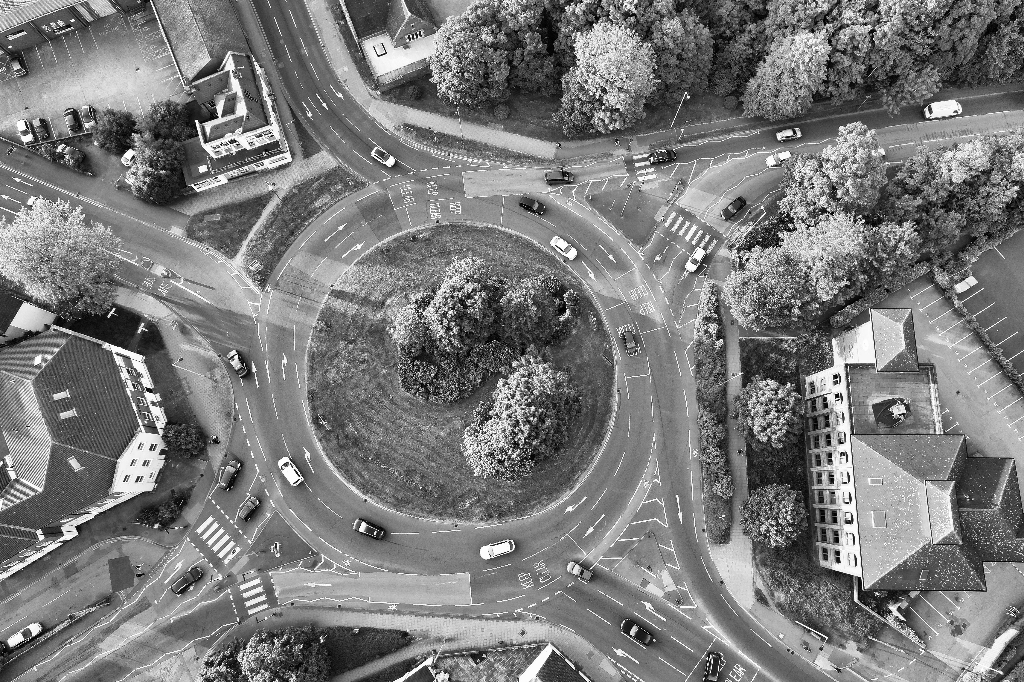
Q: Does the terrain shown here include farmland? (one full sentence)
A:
No, there's no farmland in this view.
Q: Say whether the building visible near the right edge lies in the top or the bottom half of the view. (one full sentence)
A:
The building visible near the right edge is in the bottom half of the image.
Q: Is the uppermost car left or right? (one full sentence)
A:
You can find the uppermost car on the left side of the picture.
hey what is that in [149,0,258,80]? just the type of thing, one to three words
building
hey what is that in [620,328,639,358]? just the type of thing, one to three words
car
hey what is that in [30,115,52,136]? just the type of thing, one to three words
car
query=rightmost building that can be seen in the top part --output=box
[342,0,450,91]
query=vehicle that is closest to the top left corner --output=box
[7,51,30,79]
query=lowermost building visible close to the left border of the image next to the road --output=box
[0,328,168,580]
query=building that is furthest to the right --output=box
[803,308,1024,593]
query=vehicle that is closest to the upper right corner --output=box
[922,98,964,120]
